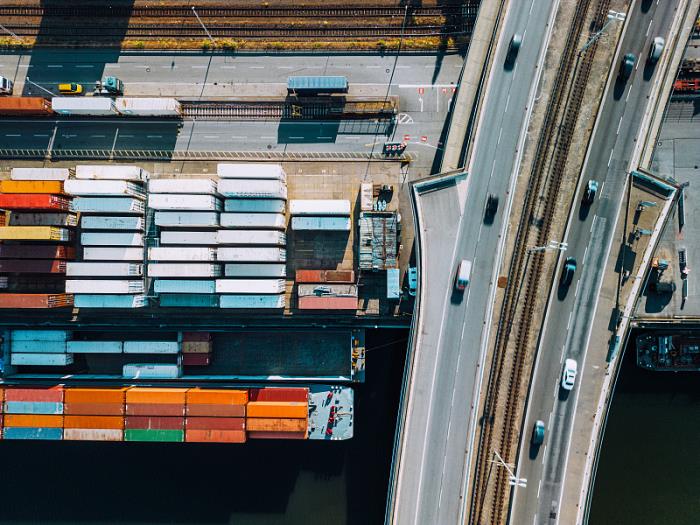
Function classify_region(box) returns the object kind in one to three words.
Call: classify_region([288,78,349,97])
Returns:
trailer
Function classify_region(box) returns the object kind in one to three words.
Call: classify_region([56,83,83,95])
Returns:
vehicle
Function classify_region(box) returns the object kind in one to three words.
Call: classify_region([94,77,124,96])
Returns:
vehicle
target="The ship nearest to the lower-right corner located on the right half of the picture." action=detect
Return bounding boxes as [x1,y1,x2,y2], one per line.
[632,333,700,371]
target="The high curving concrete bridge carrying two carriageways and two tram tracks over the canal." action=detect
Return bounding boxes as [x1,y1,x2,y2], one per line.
[383,0,694,525]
